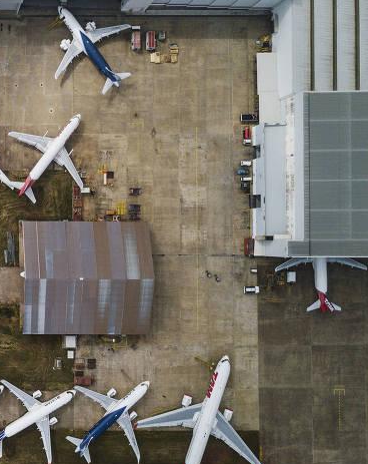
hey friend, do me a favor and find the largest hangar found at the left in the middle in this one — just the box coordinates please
[21,220,154,334]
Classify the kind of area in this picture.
airport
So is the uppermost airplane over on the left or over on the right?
left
